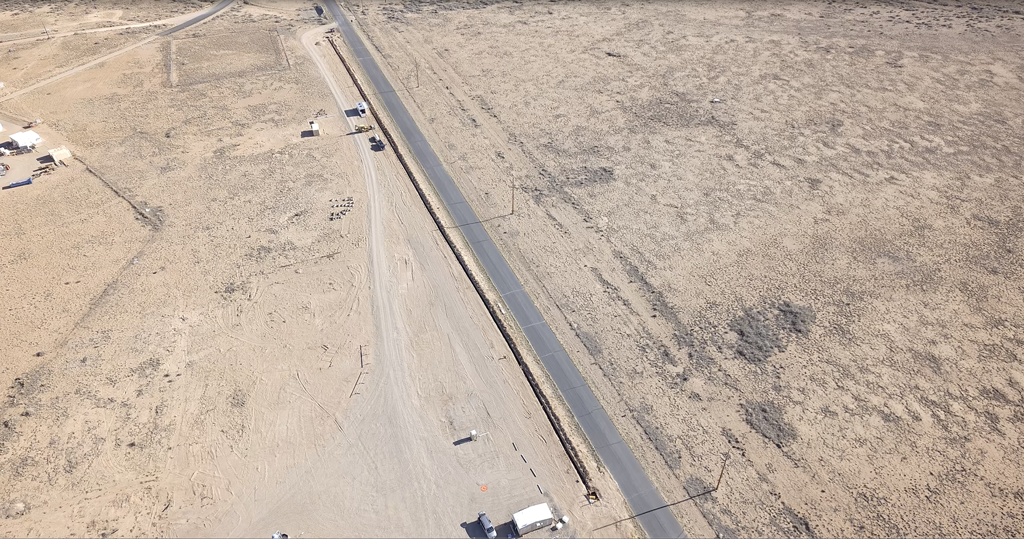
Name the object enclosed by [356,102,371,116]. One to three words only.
camper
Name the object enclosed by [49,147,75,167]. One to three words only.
shed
